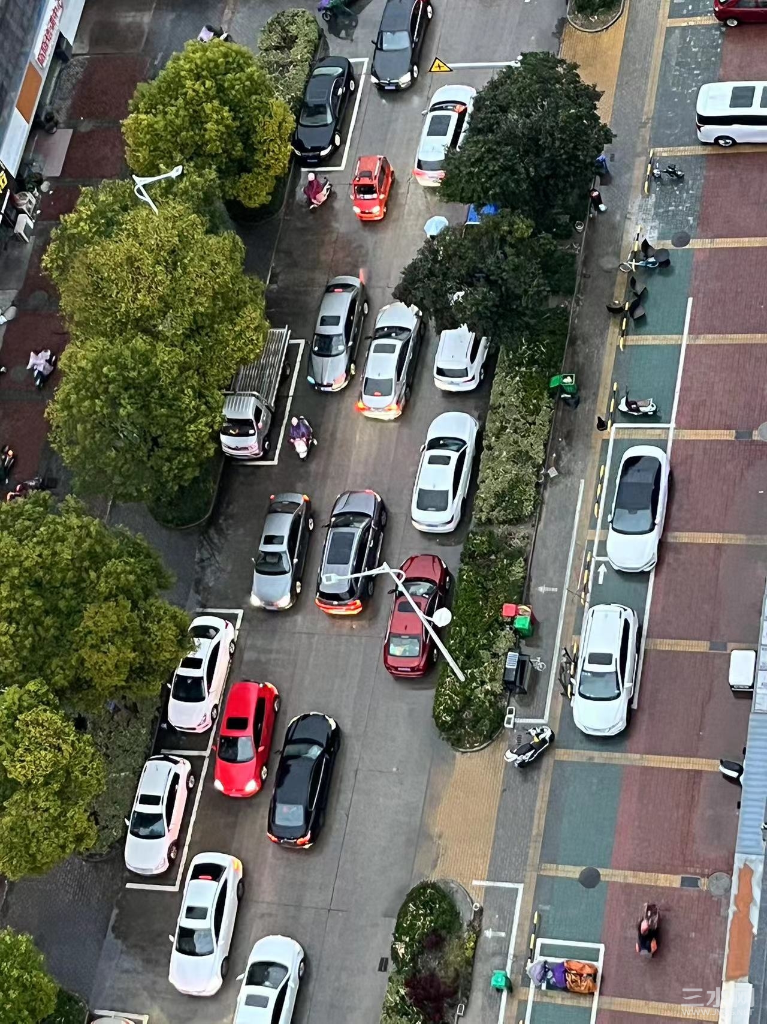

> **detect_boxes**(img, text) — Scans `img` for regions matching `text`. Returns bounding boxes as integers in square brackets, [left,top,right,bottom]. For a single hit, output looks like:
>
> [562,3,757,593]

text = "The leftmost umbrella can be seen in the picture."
[423,216,451,241]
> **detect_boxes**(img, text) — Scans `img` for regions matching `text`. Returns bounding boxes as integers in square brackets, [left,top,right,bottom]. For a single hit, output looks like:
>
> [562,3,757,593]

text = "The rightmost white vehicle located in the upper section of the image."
[702,79,767,143]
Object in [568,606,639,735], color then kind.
white car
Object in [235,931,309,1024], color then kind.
white car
